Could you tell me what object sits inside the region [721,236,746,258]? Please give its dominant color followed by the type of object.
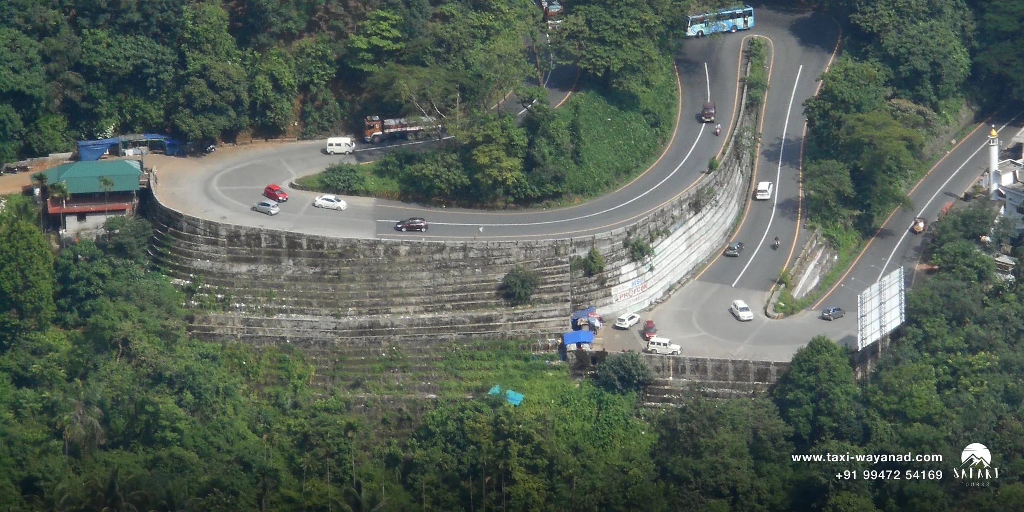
gray car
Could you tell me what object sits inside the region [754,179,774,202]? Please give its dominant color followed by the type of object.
white car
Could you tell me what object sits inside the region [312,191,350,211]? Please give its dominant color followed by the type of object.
white car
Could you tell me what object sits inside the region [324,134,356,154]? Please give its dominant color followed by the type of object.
white vehicle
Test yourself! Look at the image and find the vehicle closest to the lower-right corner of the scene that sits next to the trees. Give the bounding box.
[817,302,849,321]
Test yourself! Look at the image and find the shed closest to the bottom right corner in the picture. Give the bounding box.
[994,252,1024,280]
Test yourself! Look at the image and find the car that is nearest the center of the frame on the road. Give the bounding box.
[395,213,430,232]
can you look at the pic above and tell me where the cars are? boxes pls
[260,179,292,202]
[641,314,659,339]
[644,332,684,355]
[730,291,757,322]
[700,97,717,121]
[249,196,283,215]
[395,213,430,232]
[611,309,644,332]
[817,302,849,321]
[721,236,746,258]
[754,179,774,202]
[312,191,350,211]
